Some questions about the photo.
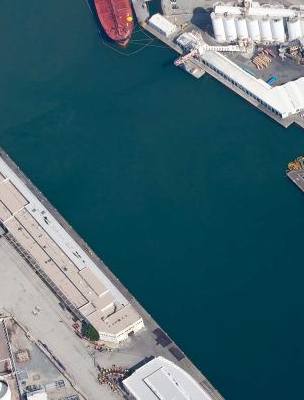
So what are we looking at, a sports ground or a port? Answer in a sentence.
What you see here is a port.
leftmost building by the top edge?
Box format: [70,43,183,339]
[148,13,178,38]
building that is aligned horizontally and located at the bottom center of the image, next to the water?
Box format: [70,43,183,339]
[123,355,215,400]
